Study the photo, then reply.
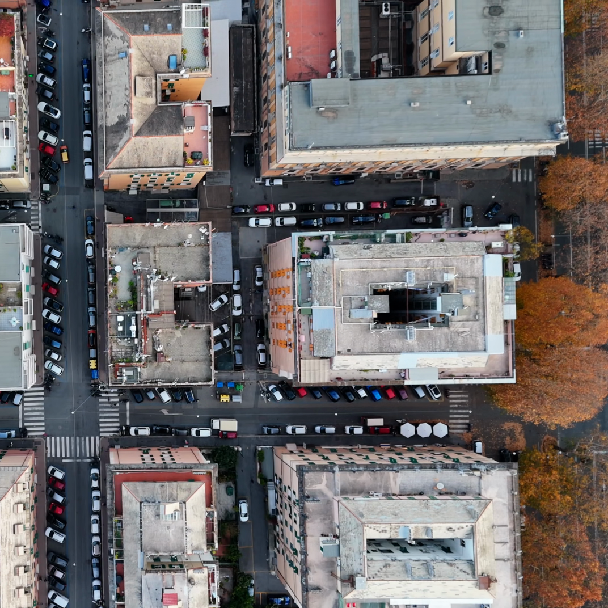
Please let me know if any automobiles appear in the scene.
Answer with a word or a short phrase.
Yes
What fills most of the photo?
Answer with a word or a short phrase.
buildings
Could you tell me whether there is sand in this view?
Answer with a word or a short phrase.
No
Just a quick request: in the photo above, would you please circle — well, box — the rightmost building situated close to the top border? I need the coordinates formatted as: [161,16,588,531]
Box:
[250,0,567,174]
